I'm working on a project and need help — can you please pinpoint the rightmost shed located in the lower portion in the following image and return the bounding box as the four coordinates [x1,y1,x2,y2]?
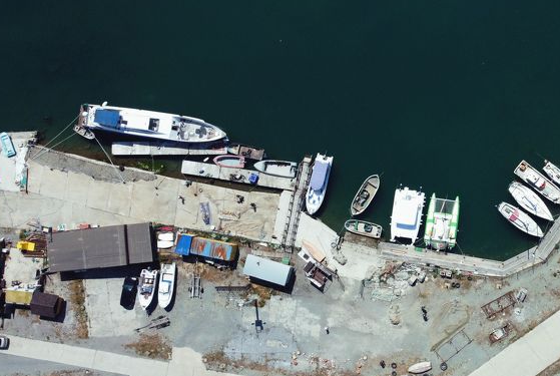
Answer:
[242,254,296,286]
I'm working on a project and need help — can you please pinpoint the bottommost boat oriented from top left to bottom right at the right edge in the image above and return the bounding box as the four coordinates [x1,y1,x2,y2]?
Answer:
[495,202,544,237]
